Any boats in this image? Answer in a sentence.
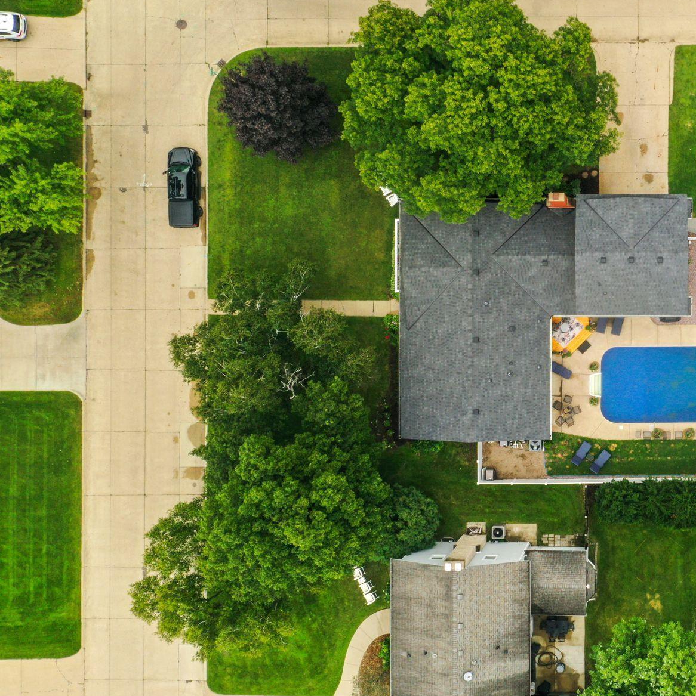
No, the scene contains no boat.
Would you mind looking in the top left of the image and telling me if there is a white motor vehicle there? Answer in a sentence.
Yes, looking in the top left of the image, one can make out a white motor vehicle.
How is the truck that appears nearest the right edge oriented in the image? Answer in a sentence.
The truck that appears nearest the right edge has been laid out from top to bottom relative to the frame.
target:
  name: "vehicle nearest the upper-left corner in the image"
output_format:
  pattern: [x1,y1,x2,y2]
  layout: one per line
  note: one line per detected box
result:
[0,13,32,43]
